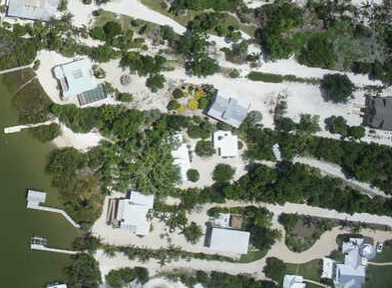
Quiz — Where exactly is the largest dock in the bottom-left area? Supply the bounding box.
[26,190,80,229]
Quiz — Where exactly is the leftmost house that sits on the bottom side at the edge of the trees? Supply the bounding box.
[104,191,155,235]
